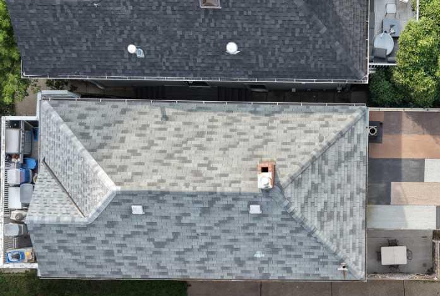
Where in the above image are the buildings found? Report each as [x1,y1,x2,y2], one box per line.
[22,92,370,281]
[2,0,375,96]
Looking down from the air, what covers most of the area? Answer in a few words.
buildings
